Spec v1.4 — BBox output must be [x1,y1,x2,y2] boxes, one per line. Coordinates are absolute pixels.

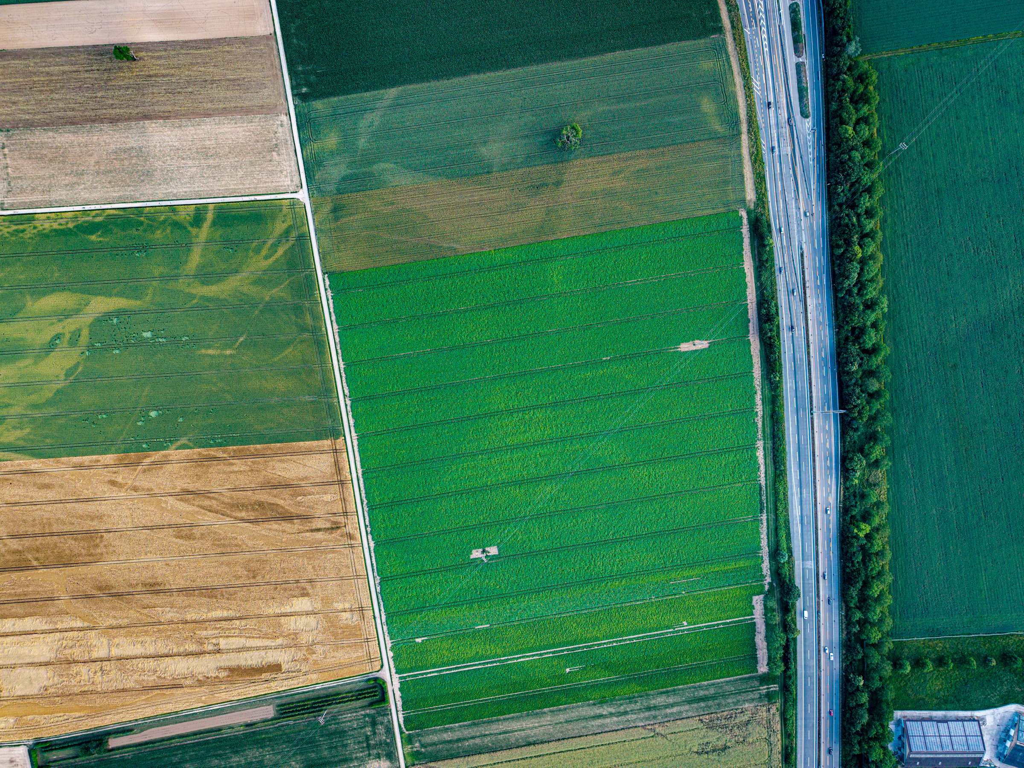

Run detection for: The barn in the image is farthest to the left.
[900,718,988,768]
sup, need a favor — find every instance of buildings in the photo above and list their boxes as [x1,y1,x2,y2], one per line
[900,718,988,768]
[998,711,1024,768]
